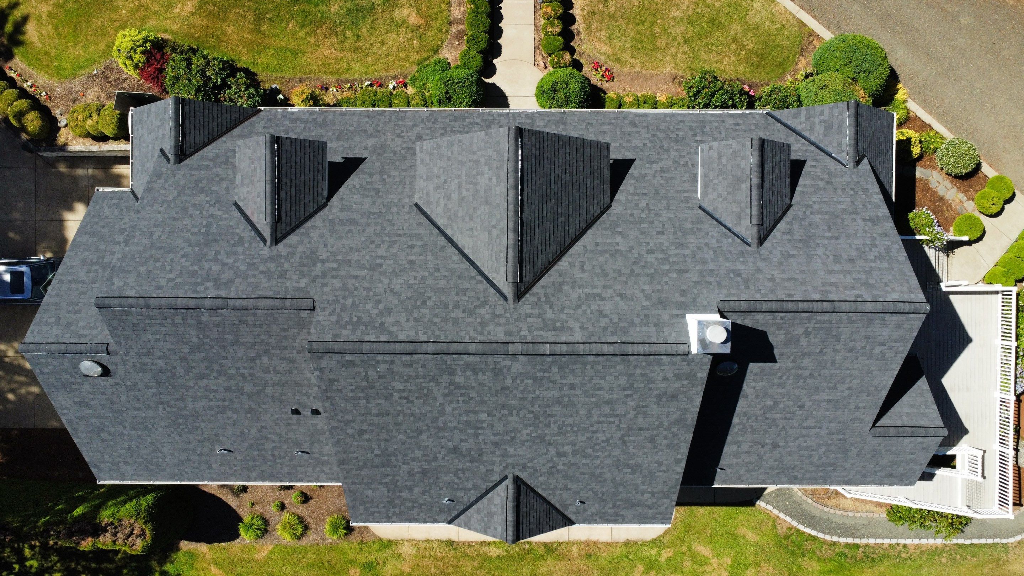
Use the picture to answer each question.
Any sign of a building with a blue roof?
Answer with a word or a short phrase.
No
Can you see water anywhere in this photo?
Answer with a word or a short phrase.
No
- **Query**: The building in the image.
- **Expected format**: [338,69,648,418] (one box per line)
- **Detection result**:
[16,93,951,545]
